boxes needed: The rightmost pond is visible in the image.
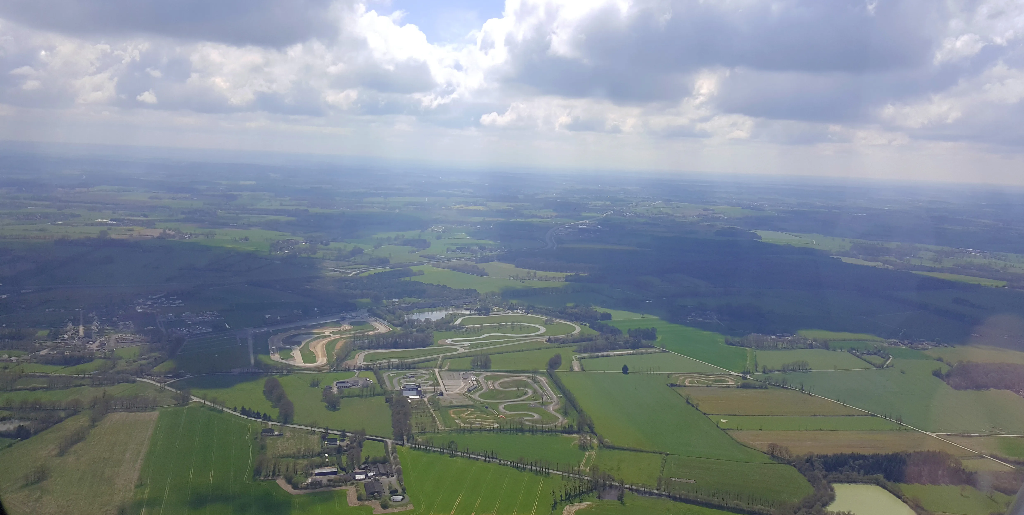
[816,483,917,515]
